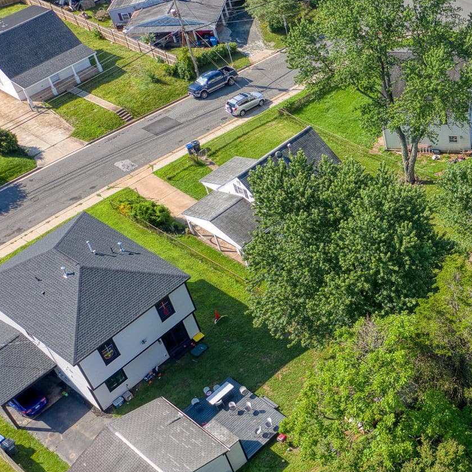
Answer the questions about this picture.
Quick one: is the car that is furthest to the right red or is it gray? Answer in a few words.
gray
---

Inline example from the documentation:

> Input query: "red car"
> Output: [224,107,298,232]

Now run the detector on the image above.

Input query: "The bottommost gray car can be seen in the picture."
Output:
[222,89,267,117]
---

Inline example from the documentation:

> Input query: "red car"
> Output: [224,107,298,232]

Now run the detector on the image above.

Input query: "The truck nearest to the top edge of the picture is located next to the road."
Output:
[184,64,238,98]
